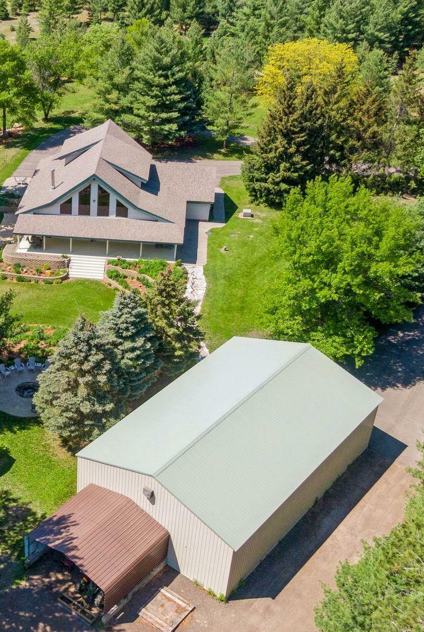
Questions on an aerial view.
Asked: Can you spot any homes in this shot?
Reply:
Yes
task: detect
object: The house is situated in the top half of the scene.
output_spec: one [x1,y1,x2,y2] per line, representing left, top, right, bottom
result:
[13,118,219,279]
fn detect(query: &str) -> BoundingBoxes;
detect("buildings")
[13,118,219,279]
[75,335,384,600]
